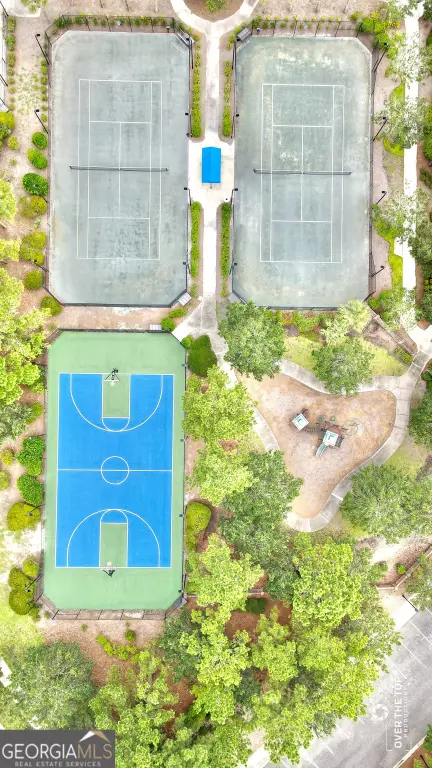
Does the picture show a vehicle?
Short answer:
No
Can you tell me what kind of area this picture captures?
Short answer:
sports ground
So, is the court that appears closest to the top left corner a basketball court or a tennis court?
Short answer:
tennis court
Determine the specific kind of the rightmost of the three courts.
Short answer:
tennis court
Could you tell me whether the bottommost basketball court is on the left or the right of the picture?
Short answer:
left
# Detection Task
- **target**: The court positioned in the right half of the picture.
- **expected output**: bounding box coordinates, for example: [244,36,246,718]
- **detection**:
[234,36,371,307]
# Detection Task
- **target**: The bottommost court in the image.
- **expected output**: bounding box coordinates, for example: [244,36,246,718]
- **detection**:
[44,331,186,610]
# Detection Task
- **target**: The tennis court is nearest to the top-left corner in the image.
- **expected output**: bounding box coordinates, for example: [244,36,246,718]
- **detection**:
[49,31,190,304]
